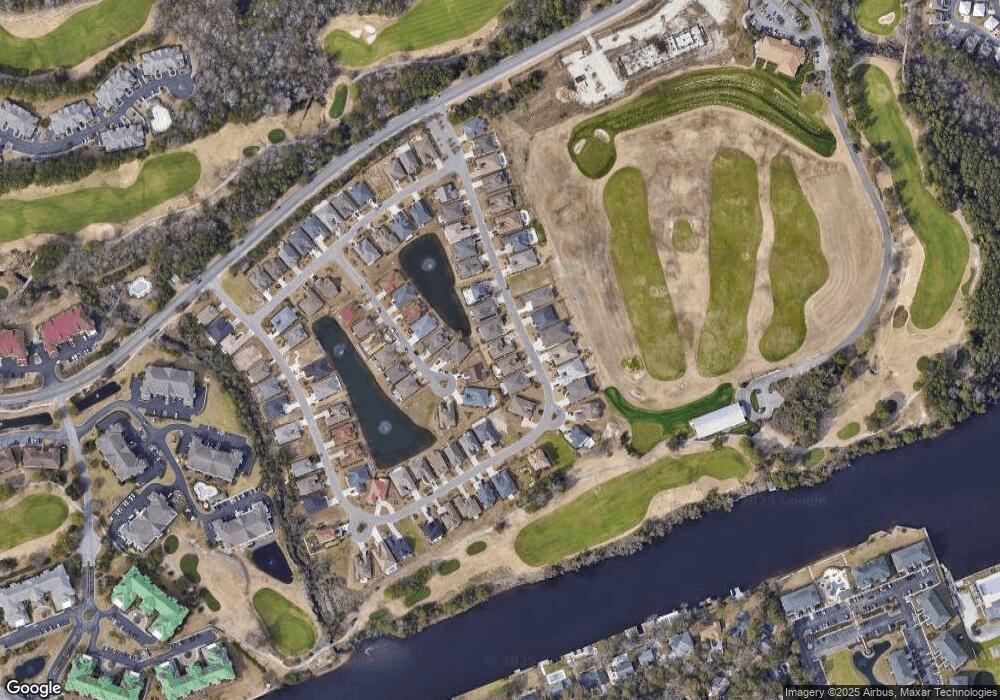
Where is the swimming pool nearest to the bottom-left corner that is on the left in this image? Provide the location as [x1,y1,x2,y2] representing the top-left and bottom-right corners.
[194,481,218,500]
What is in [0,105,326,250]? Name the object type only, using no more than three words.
golf course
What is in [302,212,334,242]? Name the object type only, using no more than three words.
house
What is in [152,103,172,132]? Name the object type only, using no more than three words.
swimming pool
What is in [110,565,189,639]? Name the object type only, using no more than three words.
building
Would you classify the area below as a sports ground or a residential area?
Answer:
residential area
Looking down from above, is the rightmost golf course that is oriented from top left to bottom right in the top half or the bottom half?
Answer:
bottom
